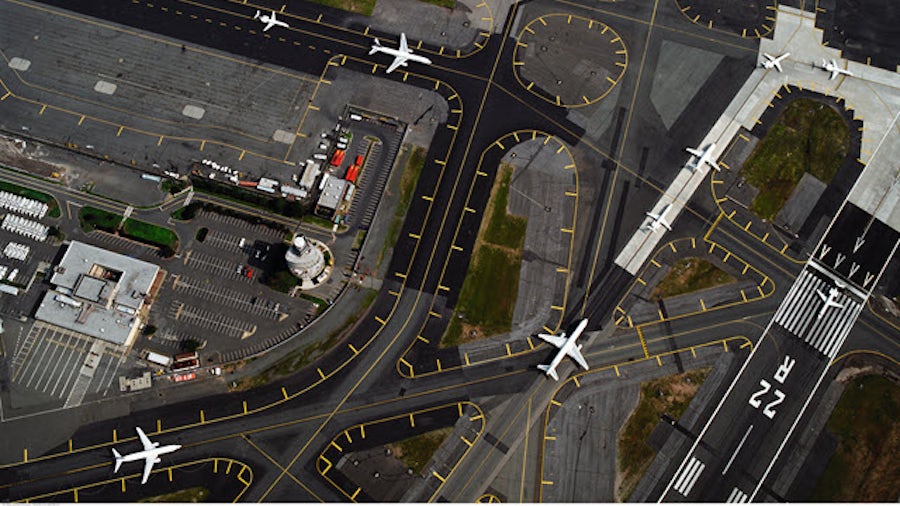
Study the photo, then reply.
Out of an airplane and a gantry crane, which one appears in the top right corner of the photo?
airplane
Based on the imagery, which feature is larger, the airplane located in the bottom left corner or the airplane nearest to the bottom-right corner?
the airplane located in the bottom left corner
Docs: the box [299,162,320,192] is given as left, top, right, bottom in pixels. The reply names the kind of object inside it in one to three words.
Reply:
shed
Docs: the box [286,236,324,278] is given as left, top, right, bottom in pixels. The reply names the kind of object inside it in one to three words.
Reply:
building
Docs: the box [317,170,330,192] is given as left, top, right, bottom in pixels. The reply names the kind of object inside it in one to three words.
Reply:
vehicle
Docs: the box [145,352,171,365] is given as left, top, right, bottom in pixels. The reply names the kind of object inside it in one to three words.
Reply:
vehicle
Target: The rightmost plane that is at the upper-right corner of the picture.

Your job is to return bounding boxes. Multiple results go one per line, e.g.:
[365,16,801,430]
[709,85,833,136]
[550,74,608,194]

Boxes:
[824,60,852,78]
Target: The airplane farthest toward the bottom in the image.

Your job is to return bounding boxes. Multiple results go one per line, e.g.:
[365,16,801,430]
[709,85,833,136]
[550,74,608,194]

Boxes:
[110,425,183,485]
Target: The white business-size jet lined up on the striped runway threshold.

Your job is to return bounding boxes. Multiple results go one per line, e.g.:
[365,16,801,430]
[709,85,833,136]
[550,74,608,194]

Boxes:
[815,285,843,317]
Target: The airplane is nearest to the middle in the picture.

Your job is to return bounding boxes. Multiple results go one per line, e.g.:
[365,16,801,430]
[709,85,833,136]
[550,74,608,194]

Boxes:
[538,320,588,380]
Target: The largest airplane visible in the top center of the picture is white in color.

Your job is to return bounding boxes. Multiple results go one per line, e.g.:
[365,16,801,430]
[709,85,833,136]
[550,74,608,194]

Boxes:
[368,33,432,73]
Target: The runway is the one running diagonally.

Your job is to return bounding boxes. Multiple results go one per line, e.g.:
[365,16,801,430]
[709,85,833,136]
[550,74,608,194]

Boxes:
[657,114,900,506]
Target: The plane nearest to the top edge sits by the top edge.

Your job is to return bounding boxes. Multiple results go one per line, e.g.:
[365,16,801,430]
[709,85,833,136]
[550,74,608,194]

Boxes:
[255,9,289,31]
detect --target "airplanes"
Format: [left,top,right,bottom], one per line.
[762,51,789,71]
[368,33,432,73]
[255,9,289,31]
[647,205,673,233]
[689,144,725,170]
[815,285,843,317]
[538,320,588,380]
[110,425,183,485]
[824,60,852,78]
